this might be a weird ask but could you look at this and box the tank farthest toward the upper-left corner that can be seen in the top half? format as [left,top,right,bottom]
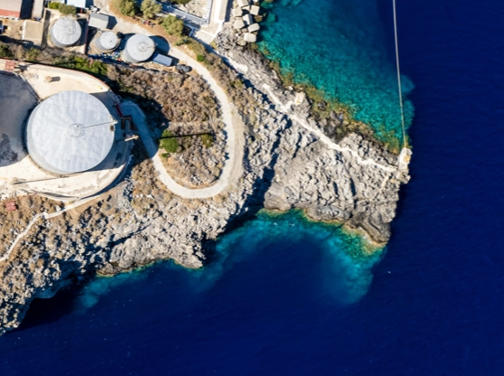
[50,16,82,48]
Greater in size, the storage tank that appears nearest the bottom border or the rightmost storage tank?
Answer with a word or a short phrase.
the storage tank that appears nearest the bottom border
